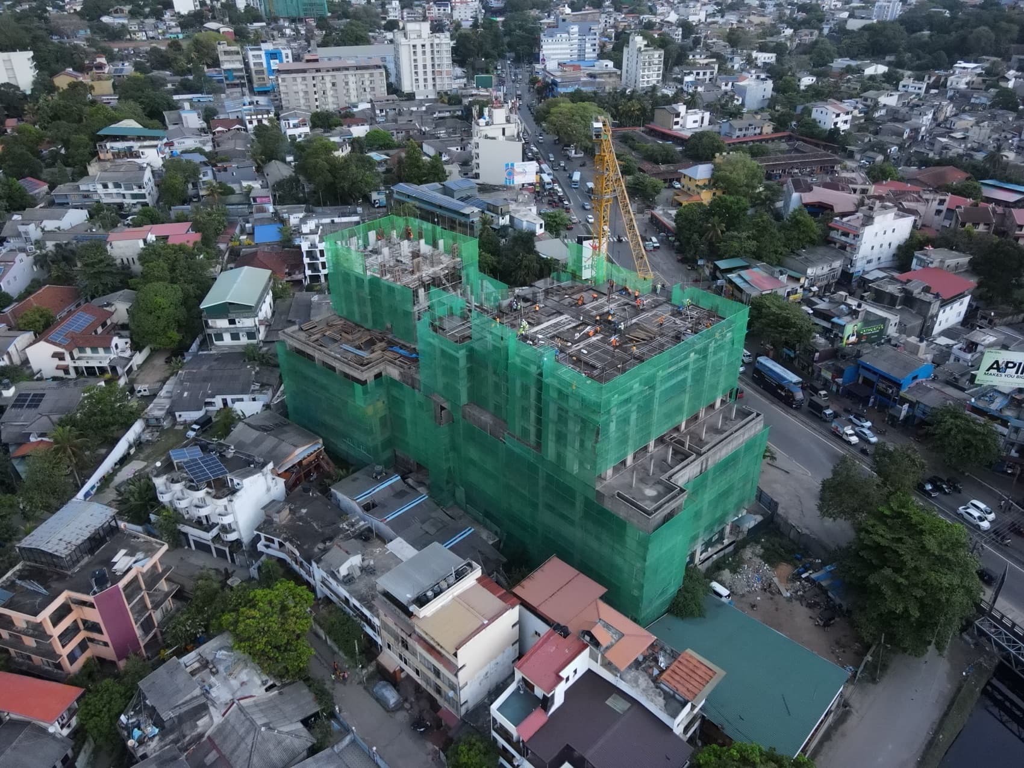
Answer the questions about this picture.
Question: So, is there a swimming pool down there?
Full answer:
No, no swimming pool is visible in the scene.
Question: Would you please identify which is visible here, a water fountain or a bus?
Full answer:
Of the two, only a bus appears.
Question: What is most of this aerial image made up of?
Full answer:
The largest share of the image is taken up by buildings.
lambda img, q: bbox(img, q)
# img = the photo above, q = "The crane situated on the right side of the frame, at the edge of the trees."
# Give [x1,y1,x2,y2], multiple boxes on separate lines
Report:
[580,122,661,348]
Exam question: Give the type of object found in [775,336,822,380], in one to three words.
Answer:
house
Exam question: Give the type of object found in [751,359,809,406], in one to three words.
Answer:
bus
